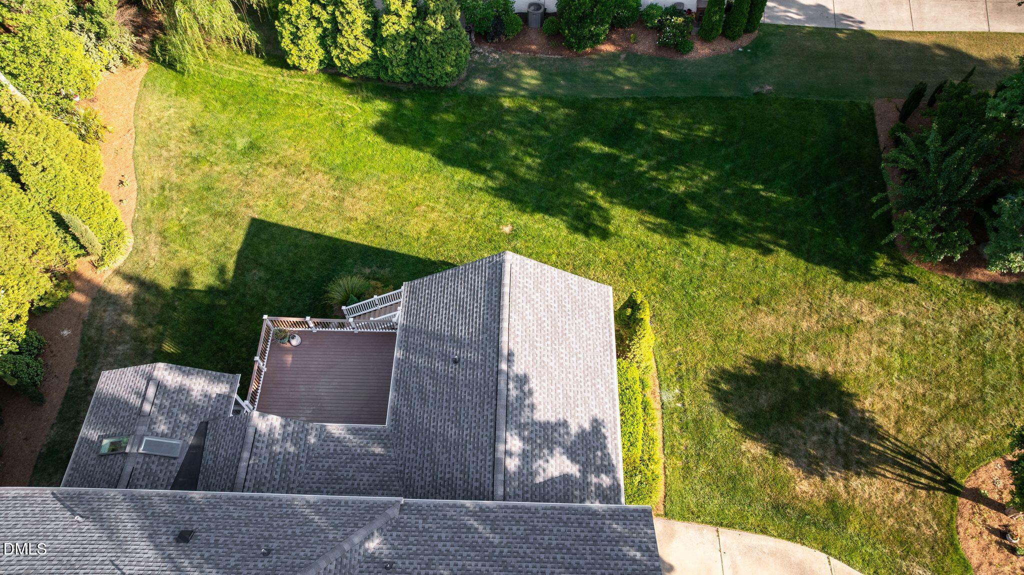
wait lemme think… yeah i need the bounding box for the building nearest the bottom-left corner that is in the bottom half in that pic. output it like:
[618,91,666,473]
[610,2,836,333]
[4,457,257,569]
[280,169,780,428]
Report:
[0,252,665,575]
